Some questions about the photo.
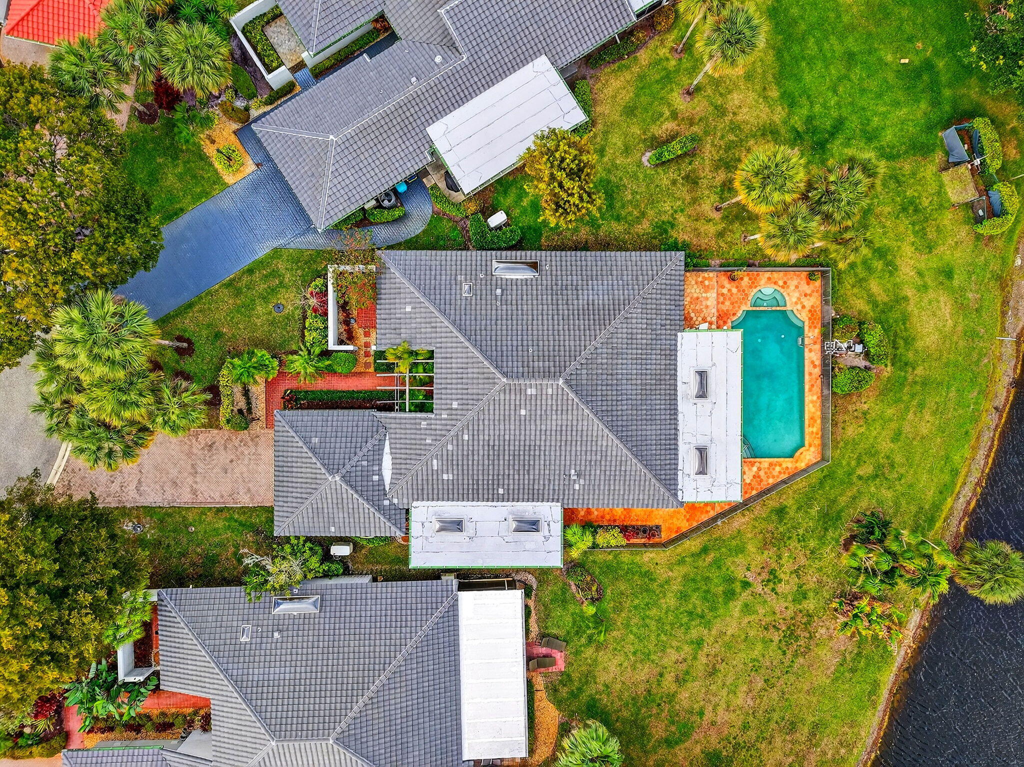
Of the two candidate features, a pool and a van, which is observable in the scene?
pool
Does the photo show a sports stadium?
No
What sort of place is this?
residential area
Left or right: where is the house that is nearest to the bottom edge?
left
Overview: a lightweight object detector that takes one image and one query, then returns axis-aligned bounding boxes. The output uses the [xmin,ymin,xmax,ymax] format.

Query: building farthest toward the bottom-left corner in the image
[60,570,530,767]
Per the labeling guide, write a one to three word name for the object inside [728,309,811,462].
swimming pool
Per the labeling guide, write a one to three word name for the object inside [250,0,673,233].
house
